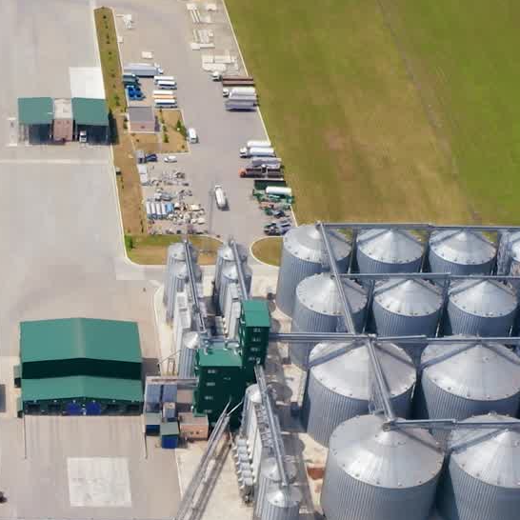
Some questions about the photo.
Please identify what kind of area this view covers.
industrial area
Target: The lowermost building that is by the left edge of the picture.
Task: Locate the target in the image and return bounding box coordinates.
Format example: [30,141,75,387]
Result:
[13,317,143,414]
